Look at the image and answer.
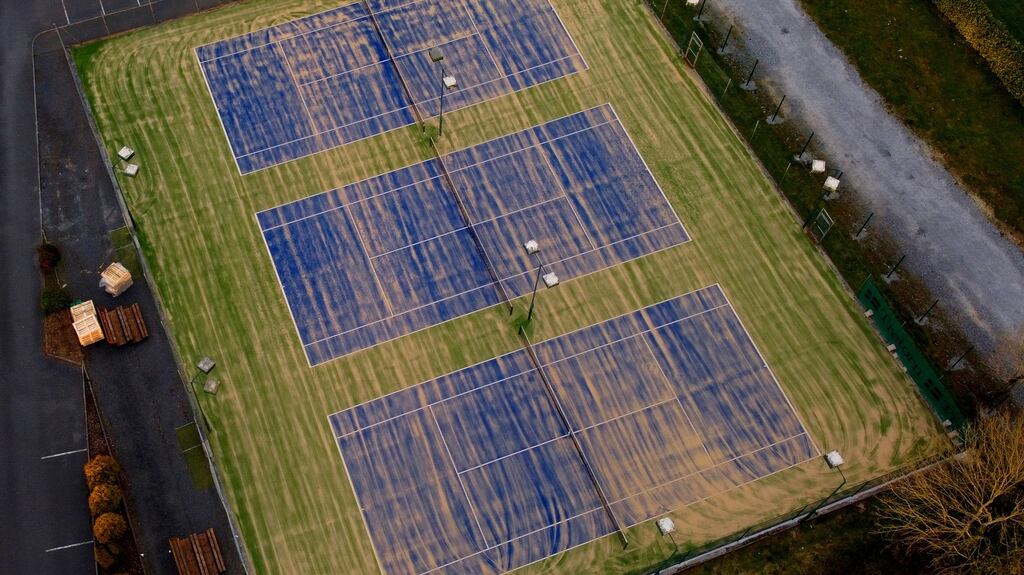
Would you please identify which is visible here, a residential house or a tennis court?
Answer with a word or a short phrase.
tennis court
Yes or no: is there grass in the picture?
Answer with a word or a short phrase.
Yes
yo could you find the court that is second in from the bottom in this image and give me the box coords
[256,103,691,367]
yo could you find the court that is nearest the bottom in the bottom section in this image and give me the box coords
[329,283,819,575]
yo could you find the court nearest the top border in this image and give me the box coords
[197,0,587,174]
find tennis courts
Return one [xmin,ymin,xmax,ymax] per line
[329,283,819,575]
[256,103,691,367]
[197,0,587,174]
